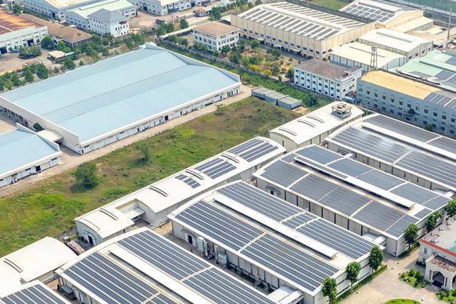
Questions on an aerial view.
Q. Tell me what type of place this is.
industrial area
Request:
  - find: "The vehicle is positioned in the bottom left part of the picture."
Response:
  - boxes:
[62,230,75,245]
